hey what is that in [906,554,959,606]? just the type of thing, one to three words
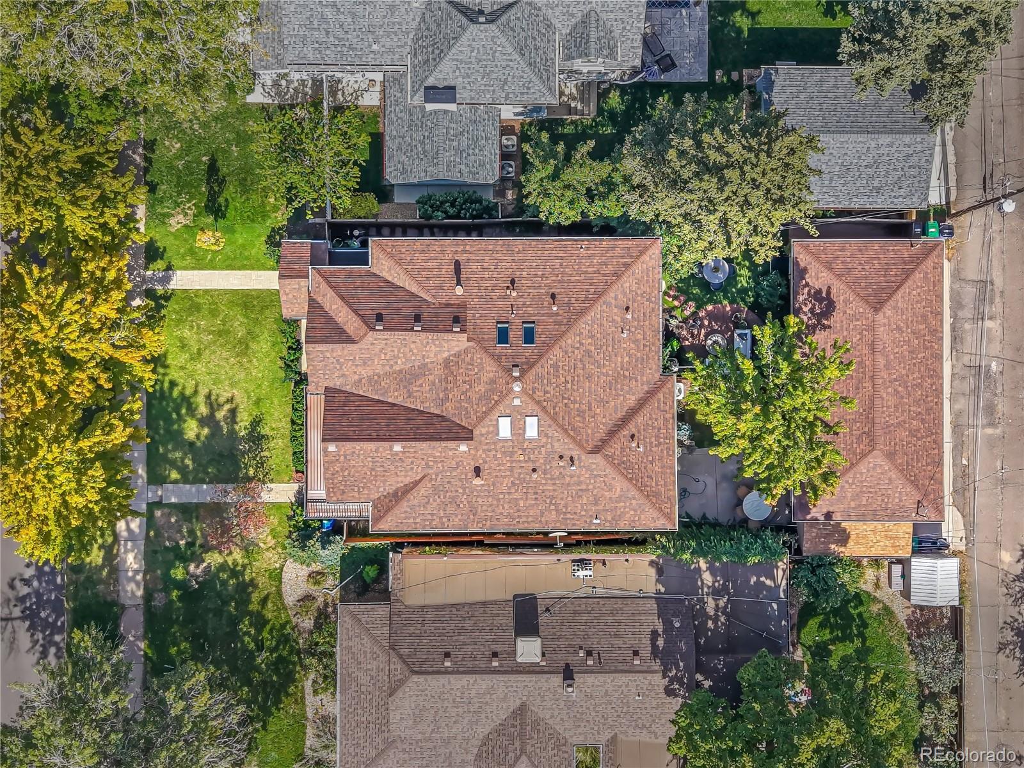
shed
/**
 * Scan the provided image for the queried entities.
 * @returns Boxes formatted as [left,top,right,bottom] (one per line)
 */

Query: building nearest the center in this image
[279,236,679,533]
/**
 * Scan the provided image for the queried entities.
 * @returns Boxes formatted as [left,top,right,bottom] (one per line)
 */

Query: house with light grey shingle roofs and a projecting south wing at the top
[249,0,644,185]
